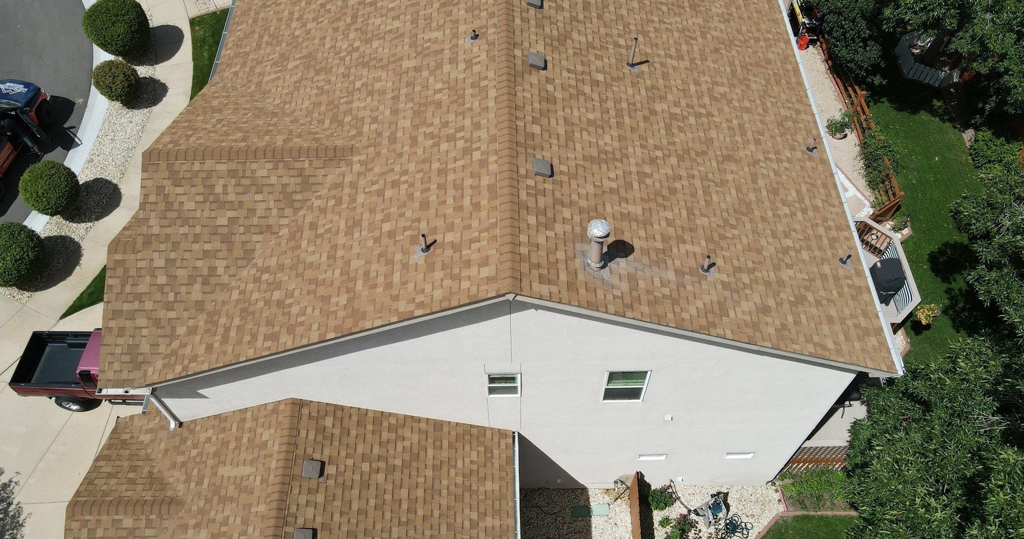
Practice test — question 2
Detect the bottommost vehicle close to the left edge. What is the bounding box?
[10,325,154,406]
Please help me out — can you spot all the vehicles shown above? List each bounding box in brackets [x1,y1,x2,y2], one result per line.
[0,89,57,183]
[10,325,154,406]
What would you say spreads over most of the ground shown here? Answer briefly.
buildings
